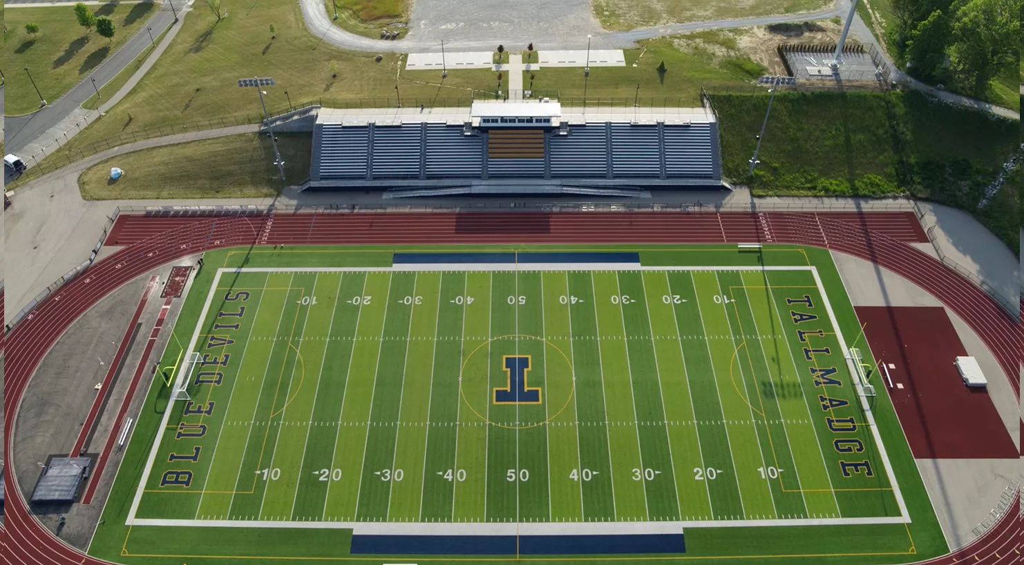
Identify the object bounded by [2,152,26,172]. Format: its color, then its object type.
white car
